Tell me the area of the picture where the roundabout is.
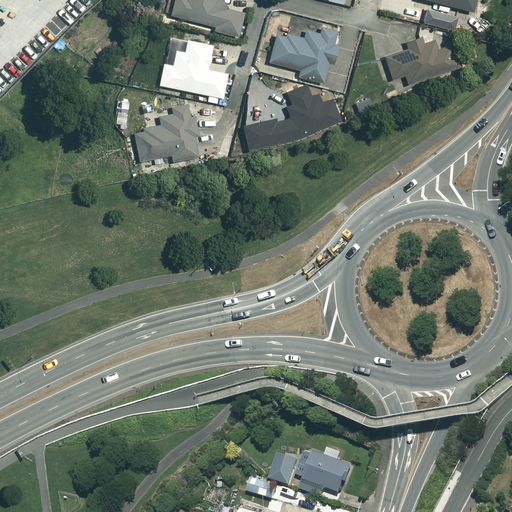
right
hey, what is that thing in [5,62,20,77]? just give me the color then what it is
red car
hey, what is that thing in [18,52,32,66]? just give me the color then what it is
red vehicle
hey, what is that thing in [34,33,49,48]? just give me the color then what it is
white car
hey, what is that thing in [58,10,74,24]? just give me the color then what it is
white car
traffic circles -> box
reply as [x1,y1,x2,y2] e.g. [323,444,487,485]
[338,201,512,379]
